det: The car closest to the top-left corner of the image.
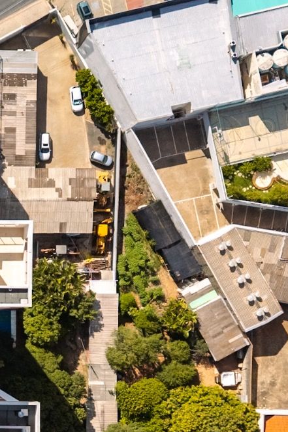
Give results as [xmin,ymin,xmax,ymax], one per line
[75,0,93,23]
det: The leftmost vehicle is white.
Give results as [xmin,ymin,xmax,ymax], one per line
[38,133,52,161]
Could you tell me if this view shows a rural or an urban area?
urban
